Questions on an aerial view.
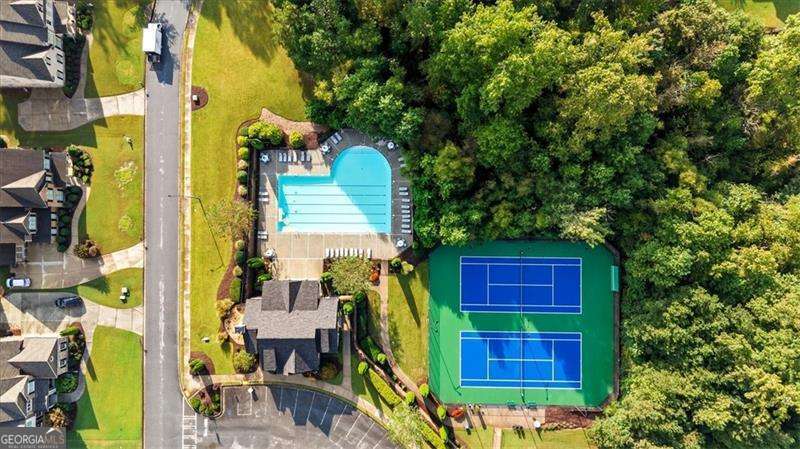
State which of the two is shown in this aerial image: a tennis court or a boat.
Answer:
tennis court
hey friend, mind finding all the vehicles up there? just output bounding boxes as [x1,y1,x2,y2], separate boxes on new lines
[55,296,80,308]
[4,277,28,289]
[145,23,163,65]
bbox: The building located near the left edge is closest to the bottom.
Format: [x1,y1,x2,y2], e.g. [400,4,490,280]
[0,336,67,449]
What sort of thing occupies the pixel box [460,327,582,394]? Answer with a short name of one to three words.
tennis court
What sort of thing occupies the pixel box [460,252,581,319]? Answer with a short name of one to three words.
tennis court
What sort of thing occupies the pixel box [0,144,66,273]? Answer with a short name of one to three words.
house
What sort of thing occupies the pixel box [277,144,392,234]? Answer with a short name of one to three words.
swimming pool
